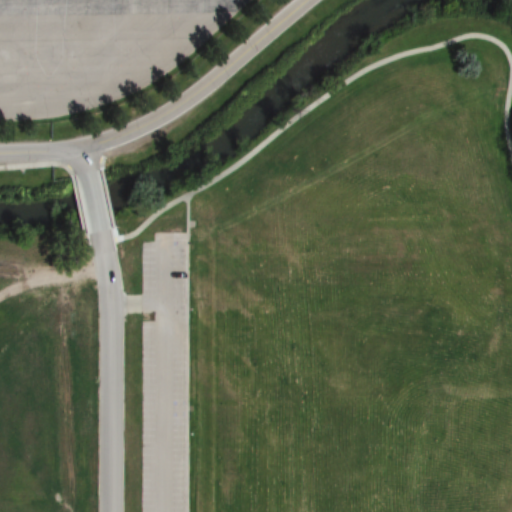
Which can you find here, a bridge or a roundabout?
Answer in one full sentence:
Of the two, only a bridge appears.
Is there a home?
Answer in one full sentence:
No, I can't see a single home in this photo.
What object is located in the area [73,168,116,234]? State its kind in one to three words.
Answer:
bridge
